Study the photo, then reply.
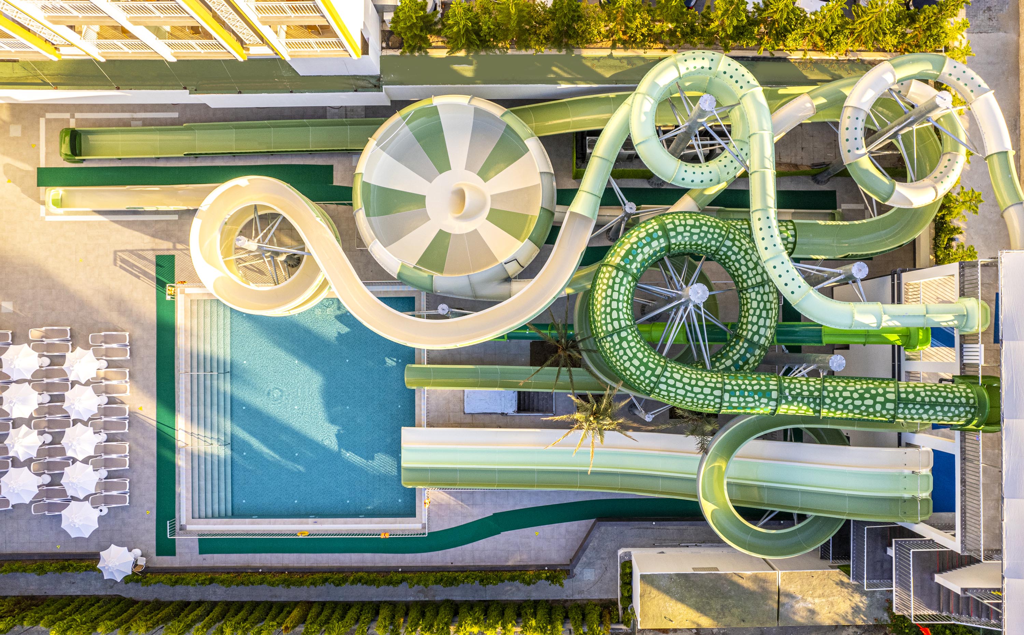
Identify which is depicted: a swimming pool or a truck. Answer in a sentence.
Visible in the photo is a swimming pool.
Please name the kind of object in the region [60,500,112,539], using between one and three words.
umbrella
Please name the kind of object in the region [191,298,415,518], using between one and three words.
swimming pool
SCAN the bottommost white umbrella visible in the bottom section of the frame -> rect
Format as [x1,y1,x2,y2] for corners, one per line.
[99,545,146,582]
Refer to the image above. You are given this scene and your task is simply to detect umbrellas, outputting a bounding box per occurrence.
[61,461,111,499]
[61,383,112,422]
[4,424,58,462]
[61,346,112,386]
[99,545,146,582]
[1,344,55,381]
[60,500,112,539]
[0,465,55,505]
[2,381,56,418]
[61,423,111,460]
